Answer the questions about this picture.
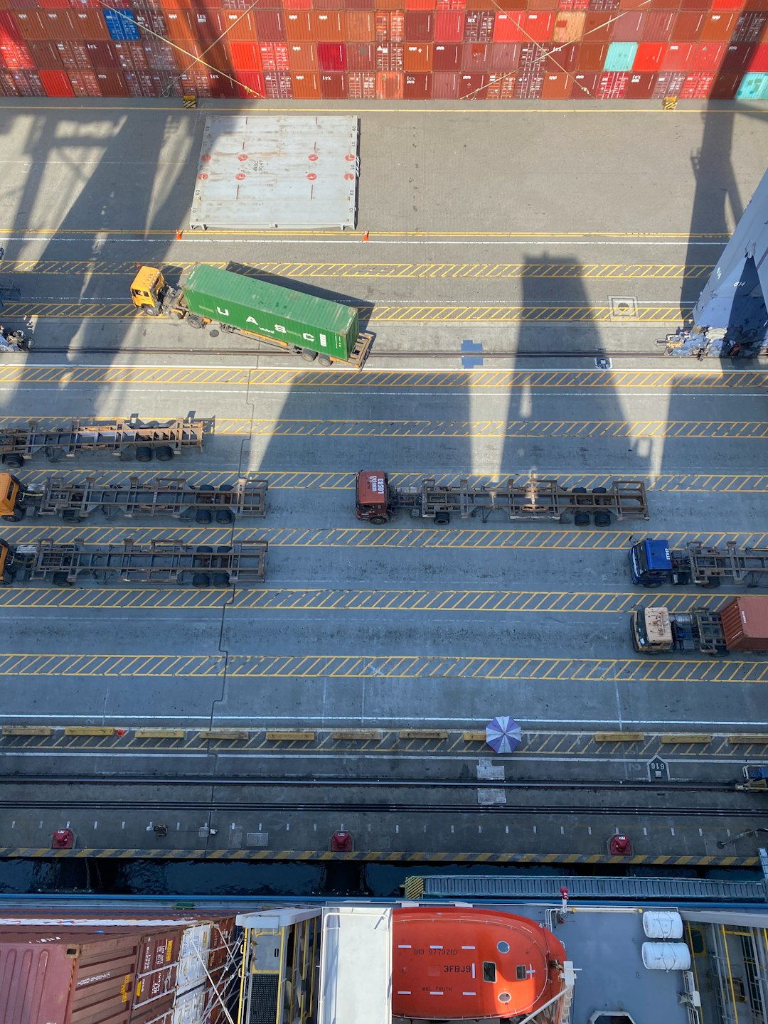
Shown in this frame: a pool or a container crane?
container crane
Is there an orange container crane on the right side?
No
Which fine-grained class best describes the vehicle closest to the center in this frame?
truck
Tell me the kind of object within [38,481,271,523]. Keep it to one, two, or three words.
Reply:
trailer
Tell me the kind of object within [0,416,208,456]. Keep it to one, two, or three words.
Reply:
trailer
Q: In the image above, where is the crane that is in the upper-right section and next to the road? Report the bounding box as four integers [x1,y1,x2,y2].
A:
[649,140,768,369]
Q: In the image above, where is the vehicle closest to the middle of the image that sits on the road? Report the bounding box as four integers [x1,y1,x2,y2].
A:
[351,471,450,526]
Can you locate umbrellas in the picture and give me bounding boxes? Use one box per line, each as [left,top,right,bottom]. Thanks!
[484,718,520,754]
